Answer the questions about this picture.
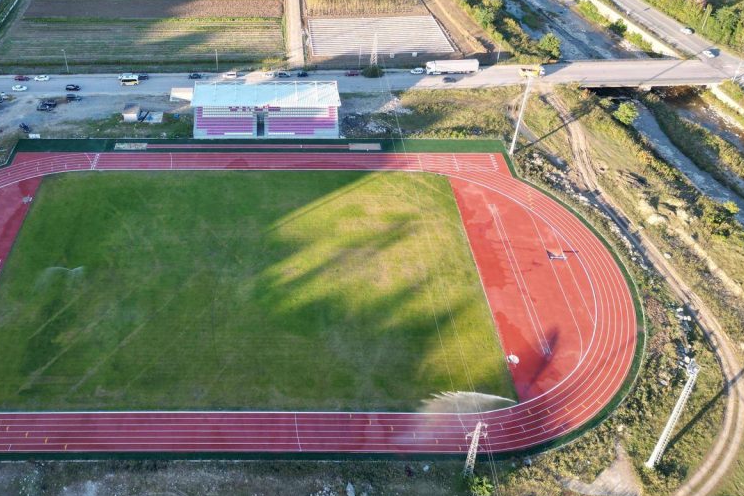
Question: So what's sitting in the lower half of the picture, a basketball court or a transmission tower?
transmission tower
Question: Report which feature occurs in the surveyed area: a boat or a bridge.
bridge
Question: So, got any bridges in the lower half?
No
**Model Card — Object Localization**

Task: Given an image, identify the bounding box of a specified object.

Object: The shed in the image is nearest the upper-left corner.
[119,101,138,122]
